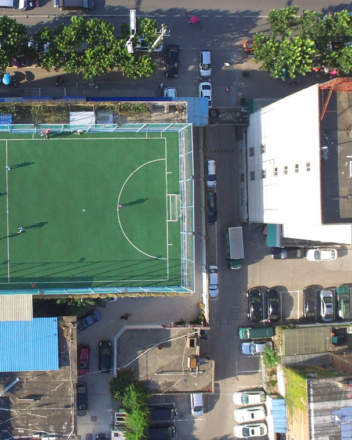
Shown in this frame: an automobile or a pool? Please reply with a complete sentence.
The image shows an automobile.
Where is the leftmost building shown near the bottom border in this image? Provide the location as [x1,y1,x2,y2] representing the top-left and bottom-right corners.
[0,312,77,440]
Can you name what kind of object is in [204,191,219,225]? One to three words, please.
car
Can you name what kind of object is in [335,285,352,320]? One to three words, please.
car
